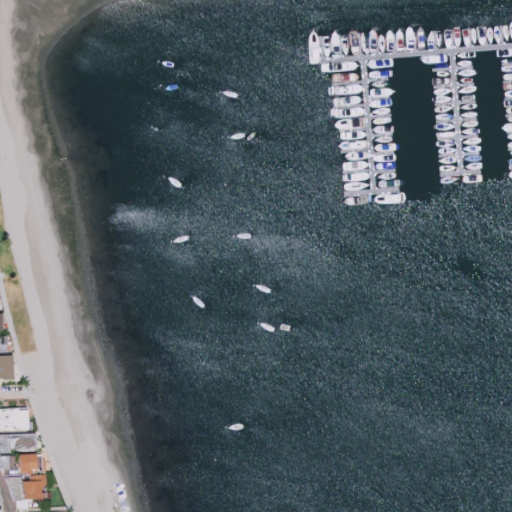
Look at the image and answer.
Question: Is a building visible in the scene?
Yes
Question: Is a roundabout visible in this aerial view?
No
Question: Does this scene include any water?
Yes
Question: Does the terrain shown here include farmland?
No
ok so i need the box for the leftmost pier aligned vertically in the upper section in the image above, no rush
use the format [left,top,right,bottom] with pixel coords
[333,60,396,190]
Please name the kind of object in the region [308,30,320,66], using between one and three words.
boat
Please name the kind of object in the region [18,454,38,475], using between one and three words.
house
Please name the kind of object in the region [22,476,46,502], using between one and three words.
house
